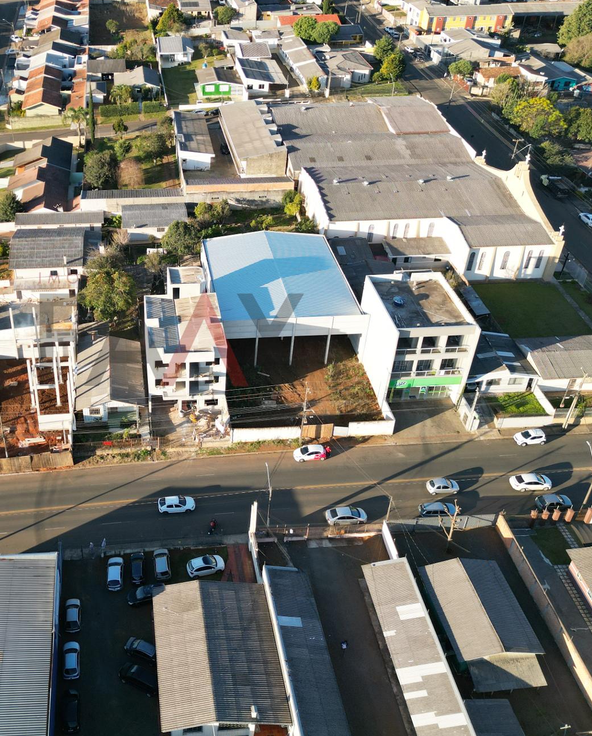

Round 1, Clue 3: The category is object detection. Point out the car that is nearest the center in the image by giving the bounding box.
[292,444,330,463]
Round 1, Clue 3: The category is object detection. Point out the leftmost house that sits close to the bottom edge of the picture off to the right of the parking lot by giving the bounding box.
[153,576,292,736]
